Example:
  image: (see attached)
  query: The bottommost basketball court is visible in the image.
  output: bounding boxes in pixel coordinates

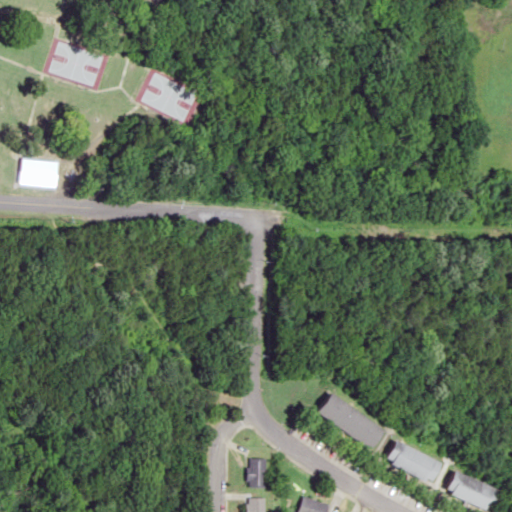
[136,70,197,123]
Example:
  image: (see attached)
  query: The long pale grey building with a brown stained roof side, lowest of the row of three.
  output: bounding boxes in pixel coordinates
[448,472,497,510]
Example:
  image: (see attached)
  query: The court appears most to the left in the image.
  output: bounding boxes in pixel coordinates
[43,39,108,90]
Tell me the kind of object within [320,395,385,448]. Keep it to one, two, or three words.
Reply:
building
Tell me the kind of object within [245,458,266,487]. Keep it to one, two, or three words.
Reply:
house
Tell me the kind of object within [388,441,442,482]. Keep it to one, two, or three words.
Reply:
building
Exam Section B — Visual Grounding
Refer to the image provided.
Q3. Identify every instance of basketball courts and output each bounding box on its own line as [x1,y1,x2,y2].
[43,39,108,90]
[136,70,197,123]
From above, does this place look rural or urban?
rural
